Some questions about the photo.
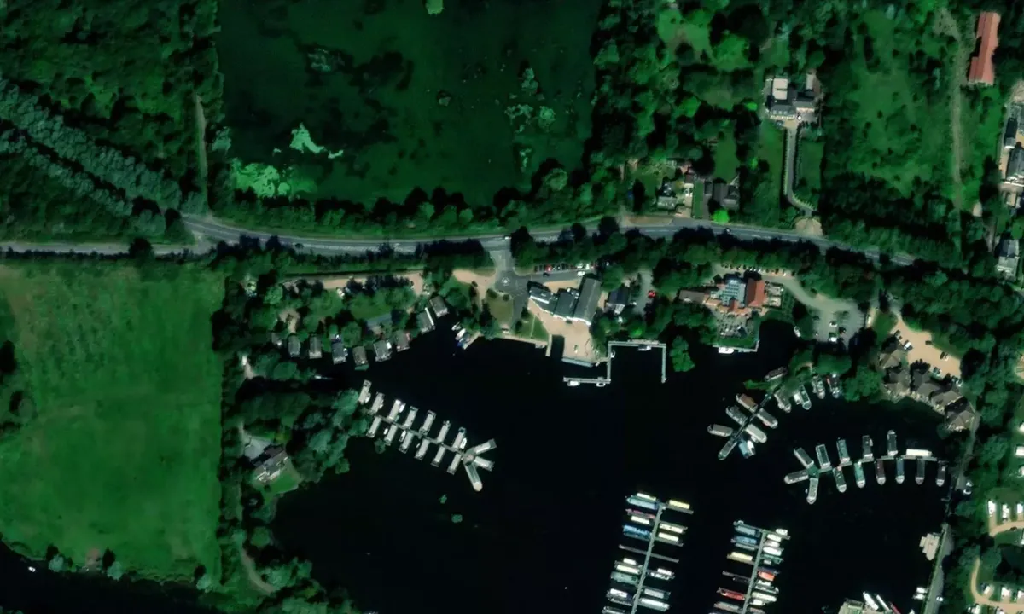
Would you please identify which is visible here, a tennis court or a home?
home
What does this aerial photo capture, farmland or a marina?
marina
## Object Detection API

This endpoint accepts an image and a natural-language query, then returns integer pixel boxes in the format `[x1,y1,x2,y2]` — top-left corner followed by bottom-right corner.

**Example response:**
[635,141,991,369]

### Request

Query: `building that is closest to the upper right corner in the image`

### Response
[968,11,999,86]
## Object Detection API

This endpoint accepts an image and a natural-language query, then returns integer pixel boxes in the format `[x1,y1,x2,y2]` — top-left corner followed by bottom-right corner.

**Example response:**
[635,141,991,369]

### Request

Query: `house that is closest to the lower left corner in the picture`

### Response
[252,444,294,488]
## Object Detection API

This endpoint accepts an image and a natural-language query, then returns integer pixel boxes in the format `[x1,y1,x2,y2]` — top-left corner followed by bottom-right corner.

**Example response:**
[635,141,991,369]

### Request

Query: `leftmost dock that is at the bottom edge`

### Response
[607,505,693,614]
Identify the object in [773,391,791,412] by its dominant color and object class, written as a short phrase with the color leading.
gray boat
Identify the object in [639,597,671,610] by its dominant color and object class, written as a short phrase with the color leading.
white boat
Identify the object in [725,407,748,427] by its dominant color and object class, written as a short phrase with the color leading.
gray boat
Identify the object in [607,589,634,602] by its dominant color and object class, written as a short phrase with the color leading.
white boat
